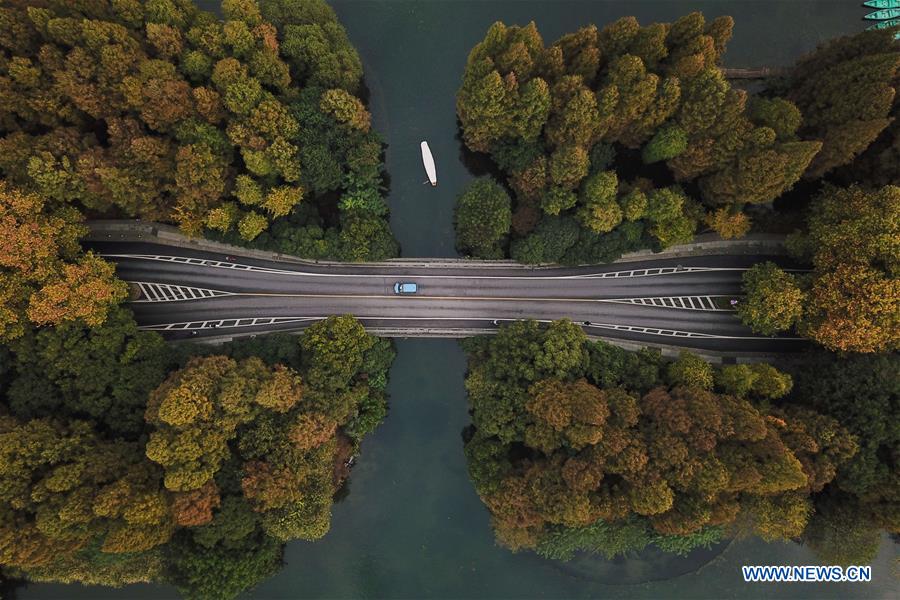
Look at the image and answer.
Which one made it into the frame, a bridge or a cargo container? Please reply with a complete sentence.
Looking from above, you can make out a bridge.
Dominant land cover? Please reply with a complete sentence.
What you mostly see from above here is trees.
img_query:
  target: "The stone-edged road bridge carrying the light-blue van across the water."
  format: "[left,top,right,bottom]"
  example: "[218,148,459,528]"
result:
[383,257,520,337]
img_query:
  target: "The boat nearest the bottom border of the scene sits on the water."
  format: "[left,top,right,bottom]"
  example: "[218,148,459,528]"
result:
[421,140,437,187]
